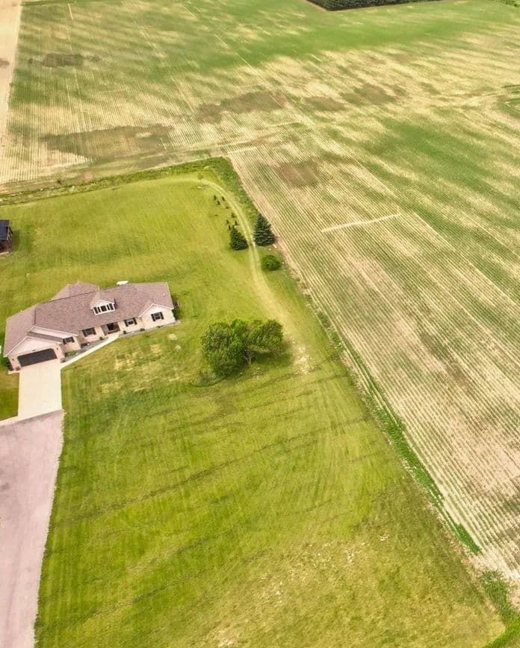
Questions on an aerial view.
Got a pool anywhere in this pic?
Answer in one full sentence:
No, no pool is visible in the view.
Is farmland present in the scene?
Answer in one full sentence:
Yes, there is farmland in the image.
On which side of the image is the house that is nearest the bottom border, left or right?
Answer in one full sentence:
You can find the house that is nearest the bottom border on the left side of the picture.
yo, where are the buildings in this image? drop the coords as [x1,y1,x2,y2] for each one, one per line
[0,272,179,374]
[0,216,12,254]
